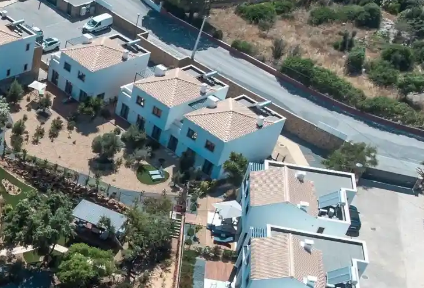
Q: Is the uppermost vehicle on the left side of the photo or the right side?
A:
left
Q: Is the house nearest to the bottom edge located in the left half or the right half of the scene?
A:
right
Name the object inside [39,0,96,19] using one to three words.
house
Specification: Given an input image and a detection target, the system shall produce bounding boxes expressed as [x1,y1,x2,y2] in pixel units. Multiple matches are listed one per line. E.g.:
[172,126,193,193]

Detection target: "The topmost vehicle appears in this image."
[85,9,114,30]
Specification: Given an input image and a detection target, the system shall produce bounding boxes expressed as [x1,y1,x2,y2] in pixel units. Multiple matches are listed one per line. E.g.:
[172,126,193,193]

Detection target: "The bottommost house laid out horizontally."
[228,225,369,288]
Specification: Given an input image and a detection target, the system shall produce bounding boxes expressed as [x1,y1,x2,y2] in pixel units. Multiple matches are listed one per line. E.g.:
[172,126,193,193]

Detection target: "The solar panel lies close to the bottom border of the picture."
[331,259,361,286]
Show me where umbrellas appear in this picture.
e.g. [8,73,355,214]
[210,197,242,222]
[28,82,45,92]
